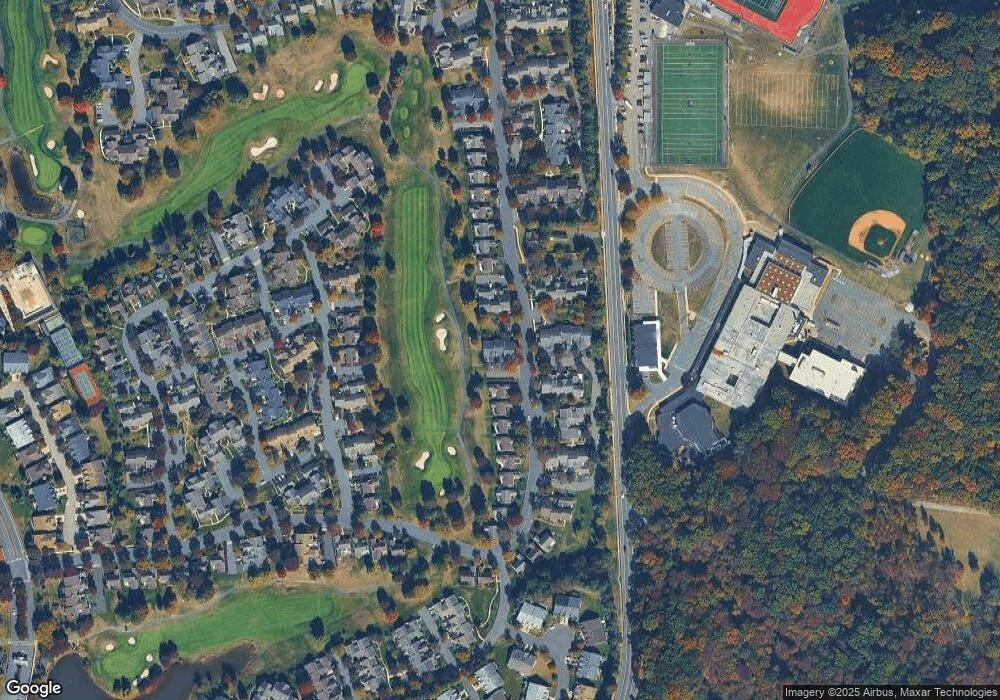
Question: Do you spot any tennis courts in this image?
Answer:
Yes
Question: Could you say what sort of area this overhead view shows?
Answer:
residential area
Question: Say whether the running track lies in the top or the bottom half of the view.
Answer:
top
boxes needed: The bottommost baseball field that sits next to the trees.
[789,130,925,266]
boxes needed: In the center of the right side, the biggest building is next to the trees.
[696,236,830,407]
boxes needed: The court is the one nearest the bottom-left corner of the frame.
[69,363,103,407]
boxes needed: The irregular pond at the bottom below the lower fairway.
[144,641,253,700]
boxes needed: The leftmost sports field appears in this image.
[650,37,729,168]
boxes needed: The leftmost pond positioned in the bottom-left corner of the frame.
[41,654,119,700]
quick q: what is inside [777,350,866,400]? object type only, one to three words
building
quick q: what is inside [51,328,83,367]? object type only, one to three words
tennis court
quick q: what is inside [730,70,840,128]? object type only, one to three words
sports field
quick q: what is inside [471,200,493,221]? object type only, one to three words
house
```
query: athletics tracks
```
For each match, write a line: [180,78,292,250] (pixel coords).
[712,0,822,43]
